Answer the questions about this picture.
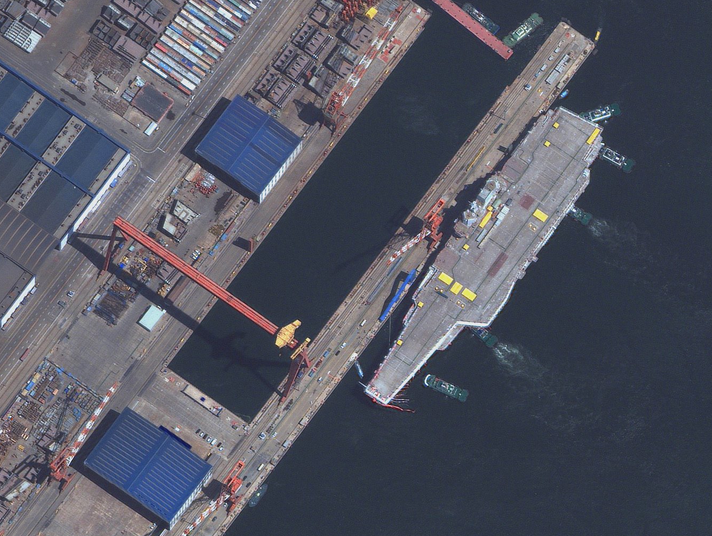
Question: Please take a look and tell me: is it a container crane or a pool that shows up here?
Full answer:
This aerial view contains a container crane.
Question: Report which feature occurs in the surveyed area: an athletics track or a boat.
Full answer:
I can see a boat in this picture.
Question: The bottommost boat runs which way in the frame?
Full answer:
What the image shows is the bottommost boat lying on a diagonal.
